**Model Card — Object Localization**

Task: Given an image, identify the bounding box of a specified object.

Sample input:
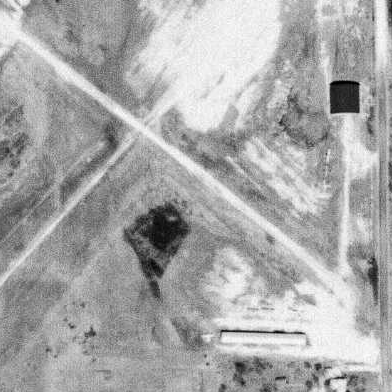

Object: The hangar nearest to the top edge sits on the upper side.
[331,84,360,114]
